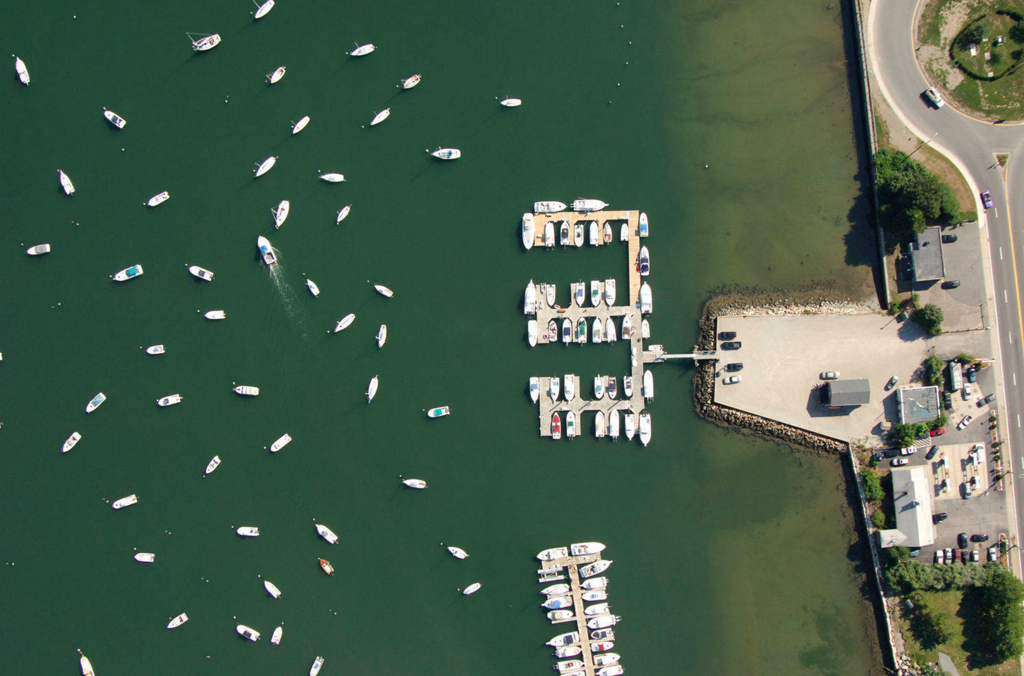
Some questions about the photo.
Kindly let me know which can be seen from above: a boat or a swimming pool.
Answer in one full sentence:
Visible in the photo is a boat.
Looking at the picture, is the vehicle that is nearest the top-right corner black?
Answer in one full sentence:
No, the vehicle that is nearest the top-right corner is white.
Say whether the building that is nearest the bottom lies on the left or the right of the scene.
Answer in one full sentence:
You can find the building that is nearest the bottom on the right side of the picture.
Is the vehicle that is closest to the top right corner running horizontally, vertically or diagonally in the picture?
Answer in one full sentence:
I'd say the vehicle that is closest to the top right corner is aligned diagonally in the picture.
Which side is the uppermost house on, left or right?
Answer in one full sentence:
You can find the uppermost house on the right side of the picture.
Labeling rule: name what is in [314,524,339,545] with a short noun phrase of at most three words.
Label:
boat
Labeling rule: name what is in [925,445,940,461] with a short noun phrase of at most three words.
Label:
car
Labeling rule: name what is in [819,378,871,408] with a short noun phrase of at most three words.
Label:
shed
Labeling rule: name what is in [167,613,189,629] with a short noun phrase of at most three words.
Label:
boat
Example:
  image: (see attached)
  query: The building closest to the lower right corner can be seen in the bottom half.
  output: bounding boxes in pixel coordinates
[878,468,934,548]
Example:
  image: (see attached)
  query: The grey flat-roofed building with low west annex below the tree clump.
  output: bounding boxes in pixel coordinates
[907,226,945,284]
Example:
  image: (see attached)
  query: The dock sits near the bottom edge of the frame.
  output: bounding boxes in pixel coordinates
[542,552,619,676]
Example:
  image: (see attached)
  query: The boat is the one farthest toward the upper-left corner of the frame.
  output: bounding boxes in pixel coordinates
[15,54,30,85]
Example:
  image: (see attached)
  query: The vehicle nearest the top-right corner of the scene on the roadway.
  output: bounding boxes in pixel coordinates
[926,86,946,108]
